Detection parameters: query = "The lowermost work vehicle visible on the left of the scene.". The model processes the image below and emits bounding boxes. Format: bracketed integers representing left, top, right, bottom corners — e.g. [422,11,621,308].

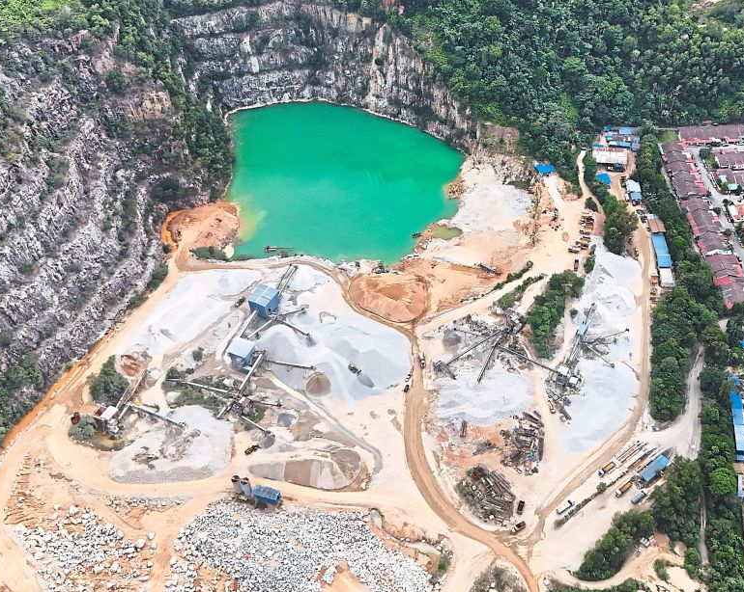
[246,441,266,454]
